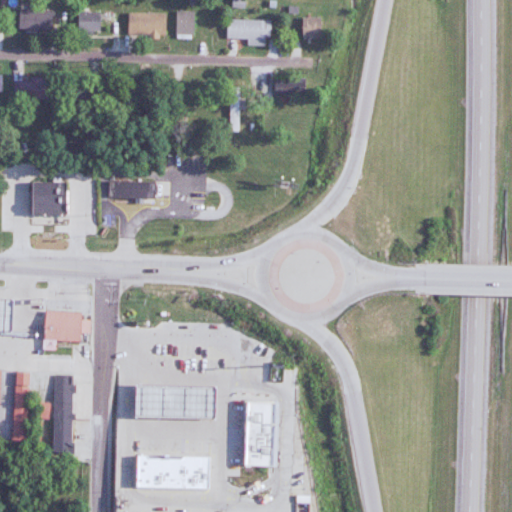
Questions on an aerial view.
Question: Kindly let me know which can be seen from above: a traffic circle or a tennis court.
traffic circle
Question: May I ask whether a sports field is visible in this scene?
No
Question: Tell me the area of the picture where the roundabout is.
center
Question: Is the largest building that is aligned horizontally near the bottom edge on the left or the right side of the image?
left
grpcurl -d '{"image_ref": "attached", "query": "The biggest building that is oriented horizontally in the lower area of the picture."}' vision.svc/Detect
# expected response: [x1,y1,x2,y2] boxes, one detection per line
[136,455,208,489]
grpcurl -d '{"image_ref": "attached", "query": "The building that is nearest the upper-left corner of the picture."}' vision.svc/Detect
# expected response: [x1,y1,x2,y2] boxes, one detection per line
[19,10,54,30]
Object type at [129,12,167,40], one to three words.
house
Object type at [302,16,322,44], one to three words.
house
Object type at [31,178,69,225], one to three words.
building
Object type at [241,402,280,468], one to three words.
building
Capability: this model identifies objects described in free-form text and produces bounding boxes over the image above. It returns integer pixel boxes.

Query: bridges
[408,264,512,296]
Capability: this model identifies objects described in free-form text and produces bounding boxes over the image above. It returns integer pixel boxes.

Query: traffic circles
[260,229,354,323]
